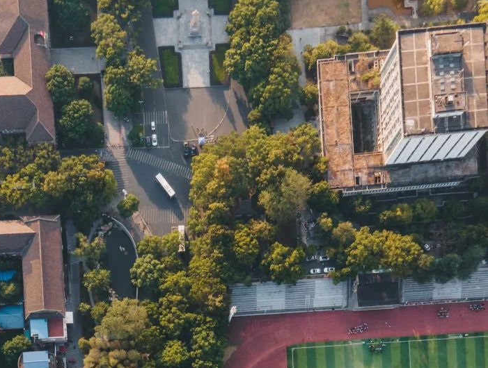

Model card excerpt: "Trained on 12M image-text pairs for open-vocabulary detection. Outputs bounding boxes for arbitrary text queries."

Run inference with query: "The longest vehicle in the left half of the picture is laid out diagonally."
[154,170,176,199]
